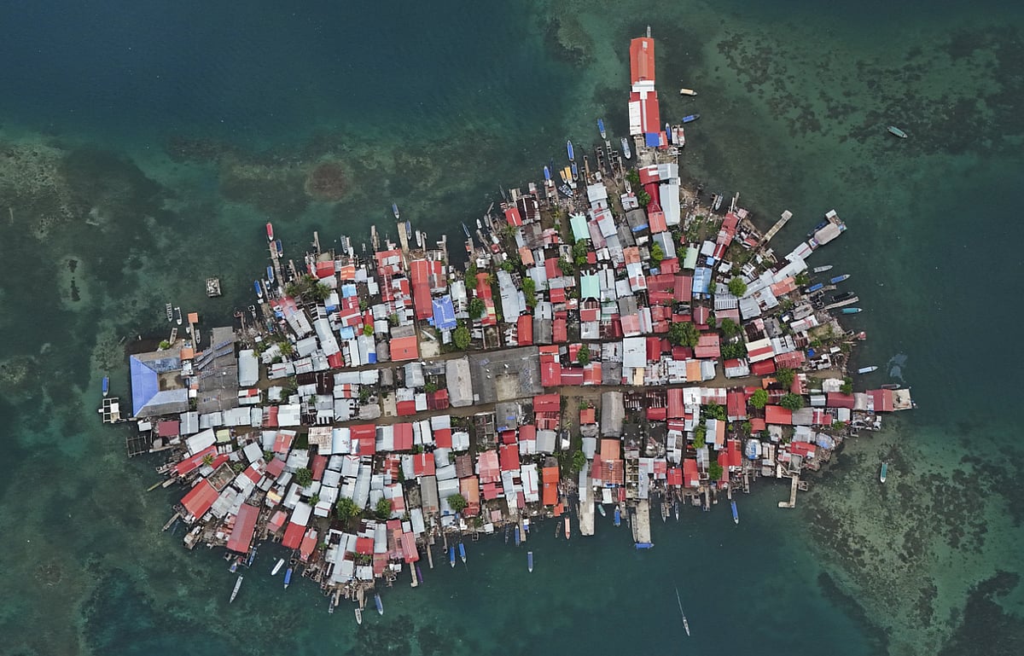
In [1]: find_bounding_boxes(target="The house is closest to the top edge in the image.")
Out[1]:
[628,35,655,84]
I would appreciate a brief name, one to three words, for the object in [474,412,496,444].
building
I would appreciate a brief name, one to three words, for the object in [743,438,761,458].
house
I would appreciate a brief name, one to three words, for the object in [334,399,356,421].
house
